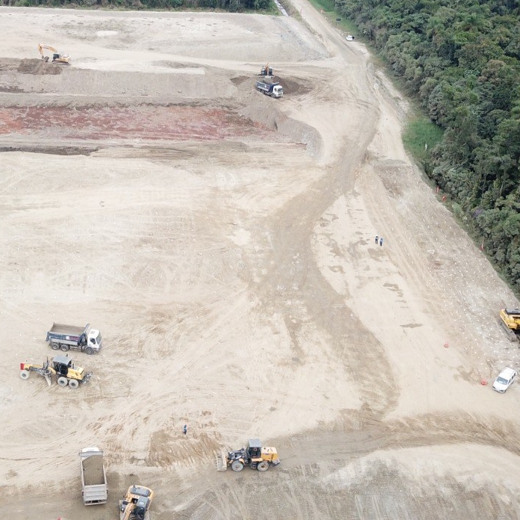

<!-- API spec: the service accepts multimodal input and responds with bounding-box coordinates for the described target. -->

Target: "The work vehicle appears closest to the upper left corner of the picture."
[36,42,70,65]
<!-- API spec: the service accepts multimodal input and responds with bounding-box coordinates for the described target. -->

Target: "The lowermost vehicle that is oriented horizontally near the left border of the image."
[17,358,90,392]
